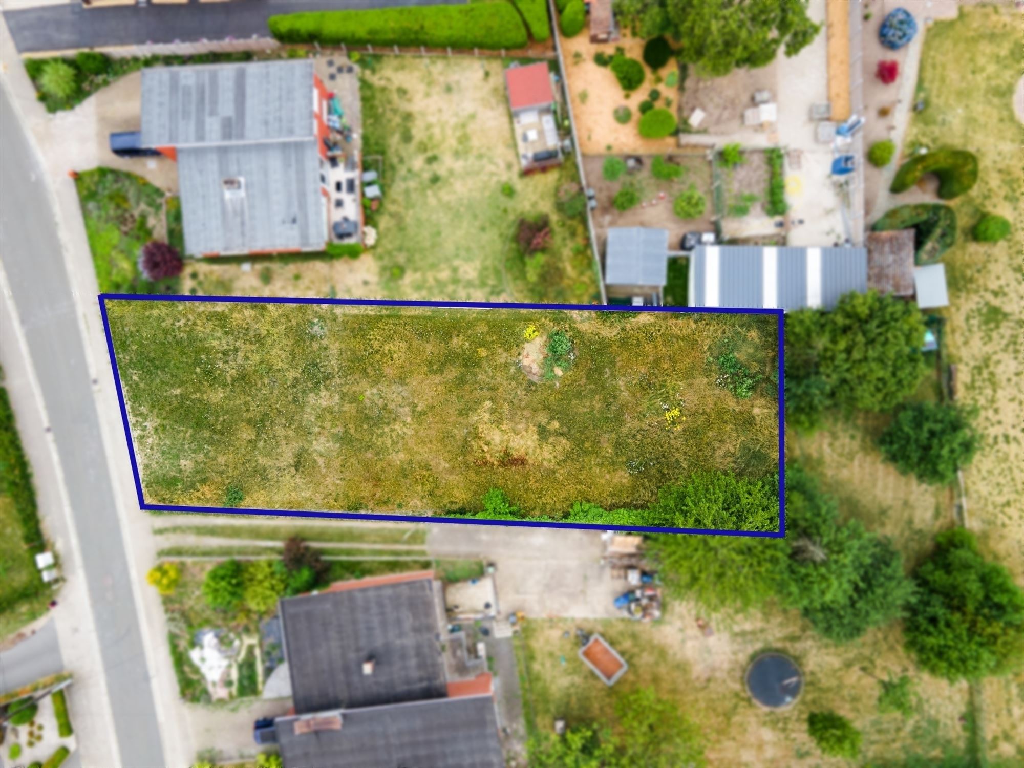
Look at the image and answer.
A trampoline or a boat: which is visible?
trampoline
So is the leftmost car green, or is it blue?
blue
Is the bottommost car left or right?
left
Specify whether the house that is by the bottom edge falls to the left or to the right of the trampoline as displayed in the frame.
to the left of it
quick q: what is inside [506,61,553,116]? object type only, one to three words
shed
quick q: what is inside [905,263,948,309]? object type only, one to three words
shed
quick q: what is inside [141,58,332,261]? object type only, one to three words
house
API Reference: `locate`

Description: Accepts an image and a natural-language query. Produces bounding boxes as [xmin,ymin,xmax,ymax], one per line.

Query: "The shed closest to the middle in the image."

[604,226,668,285]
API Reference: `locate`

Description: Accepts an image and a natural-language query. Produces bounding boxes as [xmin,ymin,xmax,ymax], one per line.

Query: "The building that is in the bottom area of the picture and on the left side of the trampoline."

[275,571,500,768]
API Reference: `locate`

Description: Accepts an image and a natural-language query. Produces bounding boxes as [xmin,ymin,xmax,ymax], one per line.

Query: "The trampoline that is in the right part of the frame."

[744,651,802,709]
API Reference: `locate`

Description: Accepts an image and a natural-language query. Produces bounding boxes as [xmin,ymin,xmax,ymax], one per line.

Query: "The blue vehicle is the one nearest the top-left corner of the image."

[110,130,167,160]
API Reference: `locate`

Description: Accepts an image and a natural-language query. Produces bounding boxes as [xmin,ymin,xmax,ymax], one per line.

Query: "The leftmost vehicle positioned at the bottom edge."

[257,716,278,748]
